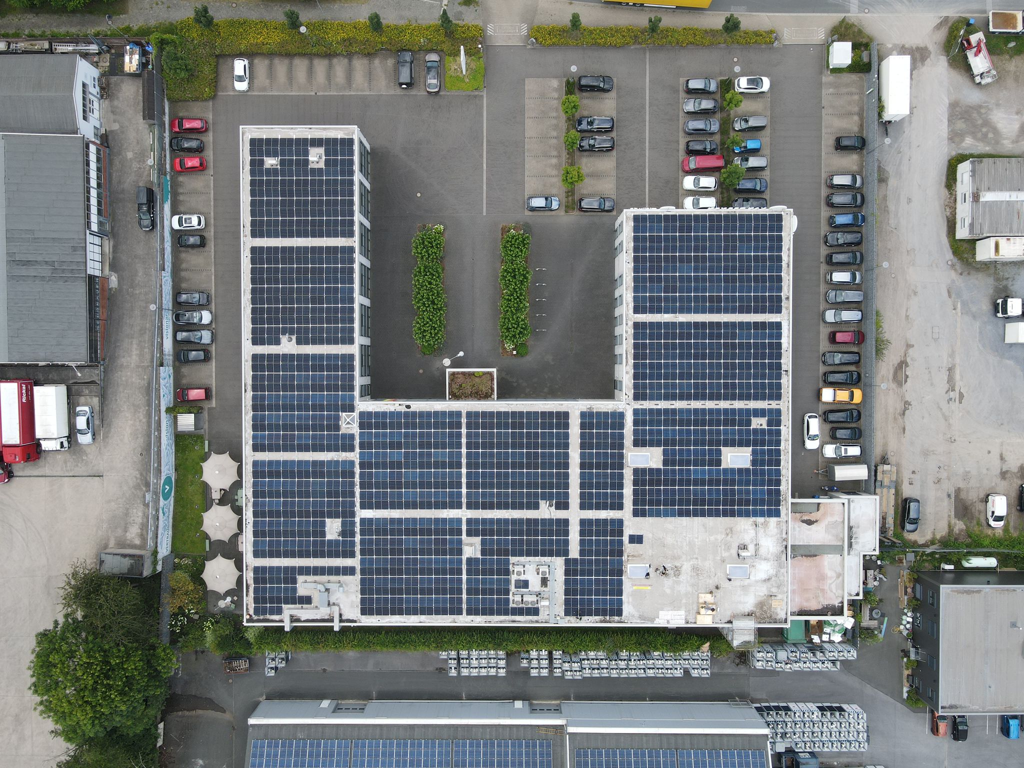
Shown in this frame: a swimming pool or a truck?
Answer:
truck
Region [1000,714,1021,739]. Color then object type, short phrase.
blue car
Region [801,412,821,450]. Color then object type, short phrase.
white car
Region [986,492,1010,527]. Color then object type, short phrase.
white vehicle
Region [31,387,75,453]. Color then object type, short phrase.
white truck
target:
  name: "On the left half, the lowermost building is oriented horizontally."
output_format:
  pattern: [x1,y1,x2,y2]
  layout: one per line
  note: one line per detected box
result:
[245,694,566,768]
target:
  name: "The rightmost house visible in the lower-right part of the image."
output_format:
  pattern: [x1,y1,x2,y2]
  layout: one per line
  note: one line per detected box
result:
[911,571,1024,714]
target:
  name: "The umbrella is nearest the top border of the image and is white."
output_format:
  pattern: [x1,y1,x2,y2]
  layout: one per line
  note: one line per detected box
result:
[203,452,241,490]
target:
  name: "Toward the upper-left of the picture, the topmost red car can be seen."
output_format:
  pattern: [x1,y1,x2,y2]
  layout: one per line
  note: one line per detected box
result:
[170,115,209,135]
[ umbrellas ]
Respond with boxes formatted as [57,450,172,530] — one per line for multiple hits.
[204,502,242,541]
[203,452,241,490]
[203,554,244,594]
